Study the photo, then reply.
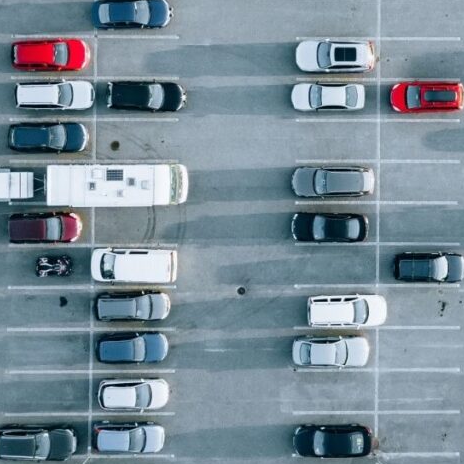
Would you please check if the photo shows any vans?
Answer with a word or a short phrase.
Yes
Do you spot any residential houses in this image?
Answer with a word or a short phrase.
No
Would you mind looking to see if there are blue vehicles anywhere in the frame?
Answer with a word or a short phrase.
Yes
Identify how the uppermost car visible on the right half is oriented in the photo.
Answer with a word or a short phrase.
horizontally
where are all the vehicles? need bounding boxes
[6,210,83,247]
[293,421,373,462]
[93,420,165,458]
[291,334,369,371]
[390,78,464,115]
[98,377,170,415]
[292,210,369,246]
[38,254,73,275]
[295,37,375,74]
[291,80,366,114]
[395,250,464,286]
[105,78,186,114]
[95,331,169,367]
[94,290,171,326]
[47,162,191,208]
[307,293,388,332]
[91,247,177,286]
[91,0,173,31]
[292,163,375,200]
[11,35,91,72]
[6,119,89,155]
[0,423,78,464]
[14,77,96,112]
